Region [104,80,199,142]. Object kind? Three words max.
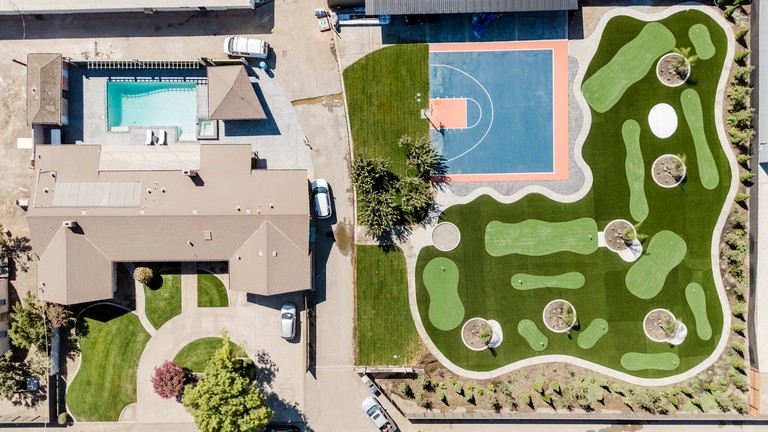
swimming pool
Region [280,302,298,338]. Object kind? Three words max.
car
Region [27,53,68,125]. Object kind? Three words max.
building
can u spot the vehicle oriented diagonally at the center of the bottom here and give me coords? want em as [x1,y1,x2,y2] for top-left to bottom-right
[364,393,405,432]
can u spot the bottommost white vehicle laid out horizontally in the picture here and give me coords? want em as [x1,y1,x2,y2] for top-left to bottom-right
[224,36,272,60]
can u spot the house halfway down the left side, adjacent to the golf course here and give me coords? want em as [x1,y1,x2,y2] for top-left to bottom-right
[28,144,313,304]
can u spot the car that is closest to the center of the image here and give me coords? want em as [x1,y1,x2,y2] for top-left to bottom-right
[311,178,332,219]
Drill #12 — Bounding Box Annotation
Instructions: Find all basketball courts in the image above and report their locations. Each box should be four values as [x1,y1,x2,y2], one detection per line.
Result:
[429,40,568,182]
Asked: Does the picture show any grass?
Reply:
Yes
